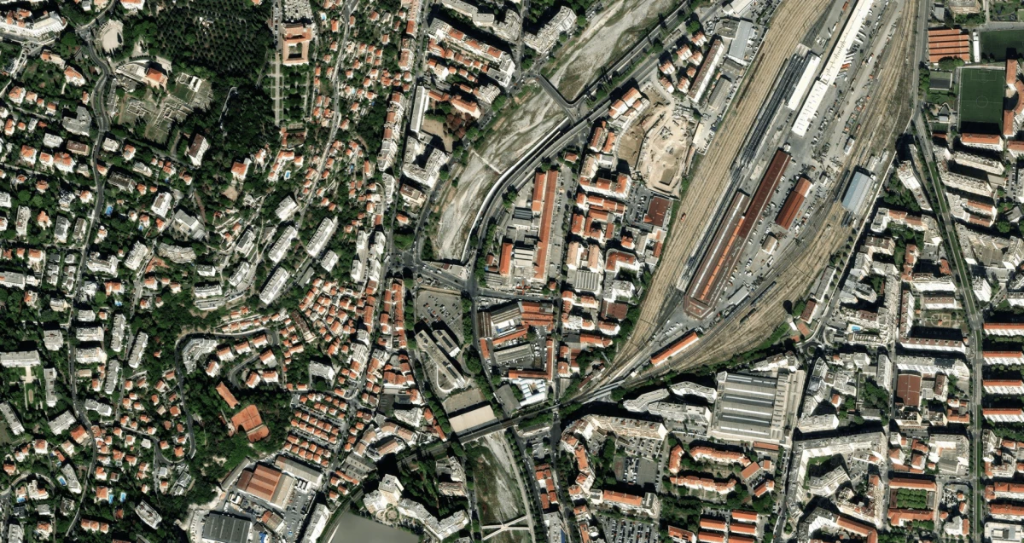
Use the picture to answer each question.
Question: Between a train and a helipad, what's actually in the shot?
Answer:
train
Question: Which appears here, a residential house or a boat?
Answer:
residential house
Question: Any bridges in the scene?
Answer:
Yes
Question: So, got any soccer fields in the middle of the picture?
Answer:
No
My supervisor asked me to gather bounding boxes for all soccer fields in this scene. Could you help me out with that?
[980,29,1024,62]
[960,68,1004,134]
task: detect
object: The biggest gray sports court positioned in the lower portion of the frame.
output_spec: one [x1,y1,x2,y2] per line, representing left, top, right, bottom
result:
[636,459,657,487]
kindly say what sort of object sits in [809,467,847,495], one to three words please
building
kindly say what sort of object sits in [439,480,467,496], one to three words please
building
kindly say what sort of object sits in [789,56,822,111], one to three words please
shed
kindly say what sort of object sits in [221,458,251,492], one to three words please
house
